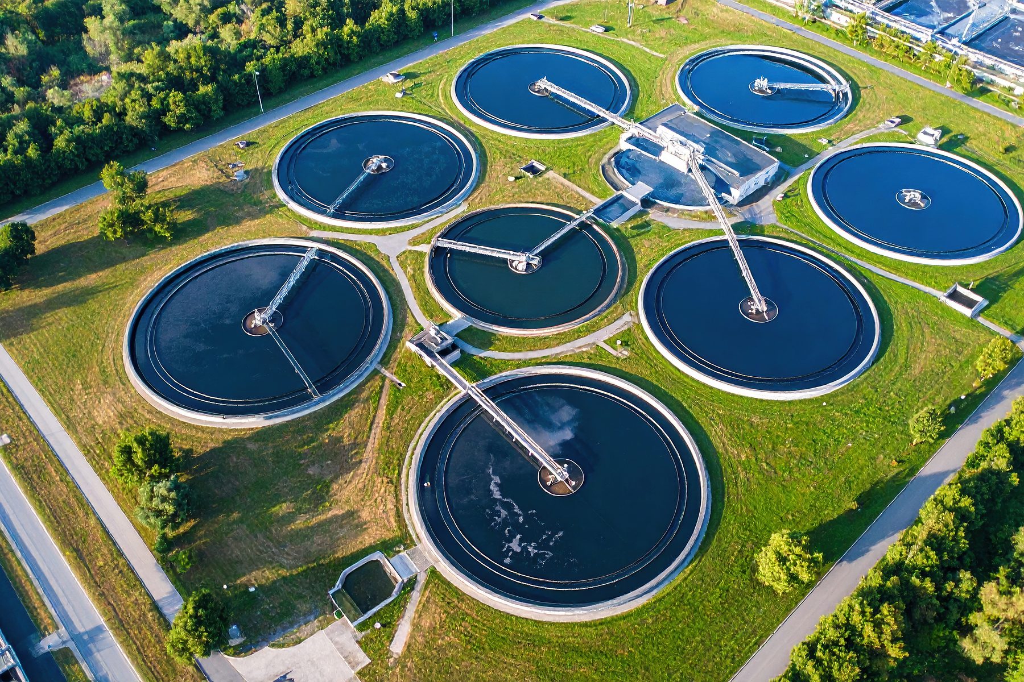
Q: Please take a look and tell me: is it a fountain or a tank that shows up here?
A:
tank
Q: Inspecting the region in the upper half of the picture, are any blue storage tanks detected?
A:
Yes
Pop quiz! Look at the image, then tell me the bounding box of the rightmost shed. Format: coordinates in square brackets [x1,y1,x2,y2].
[917,119,945,146]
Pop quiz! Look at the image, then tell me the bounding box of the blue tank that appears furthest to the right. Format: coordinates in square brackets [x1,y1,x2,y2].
[807,144,1019,267]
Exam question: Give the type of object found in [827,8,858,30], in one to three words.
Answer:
shed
